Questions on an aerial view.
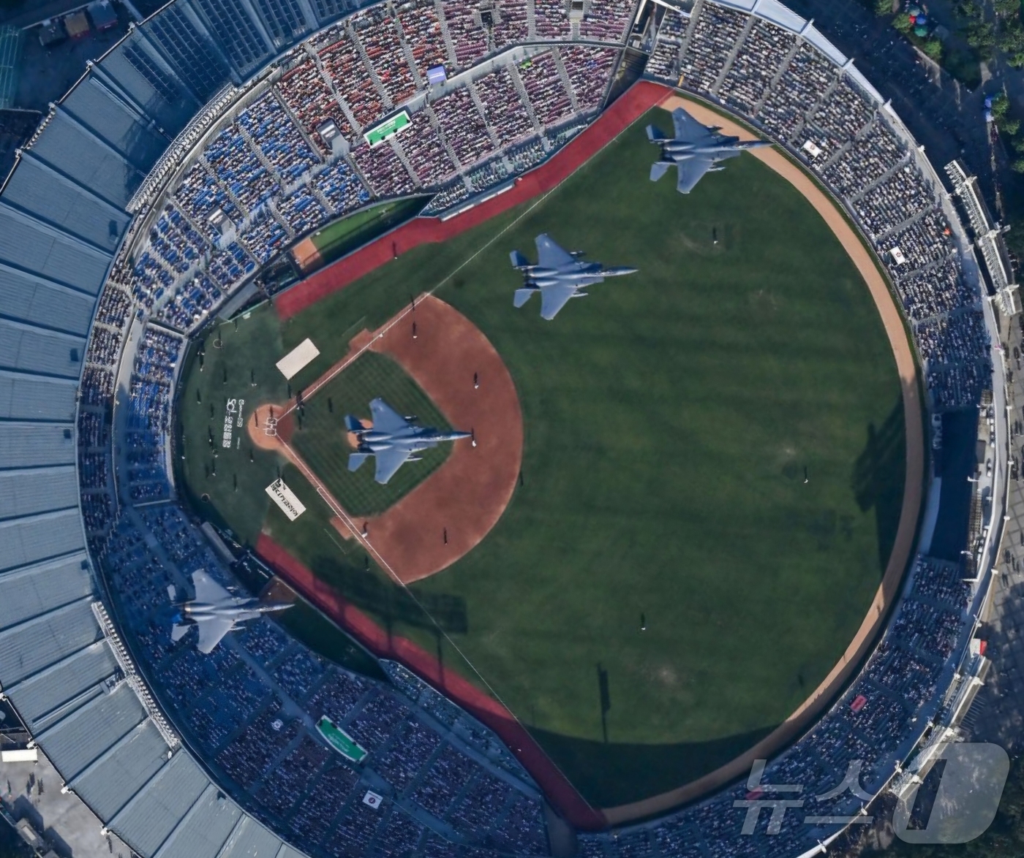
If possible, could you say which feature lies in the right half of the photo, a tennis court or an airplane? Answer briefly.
airplane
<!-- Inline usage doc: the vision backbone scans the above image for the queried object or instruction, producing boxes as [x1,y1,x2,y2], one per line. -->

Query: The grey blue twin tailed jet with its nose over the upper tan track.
[644,108,771,194]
